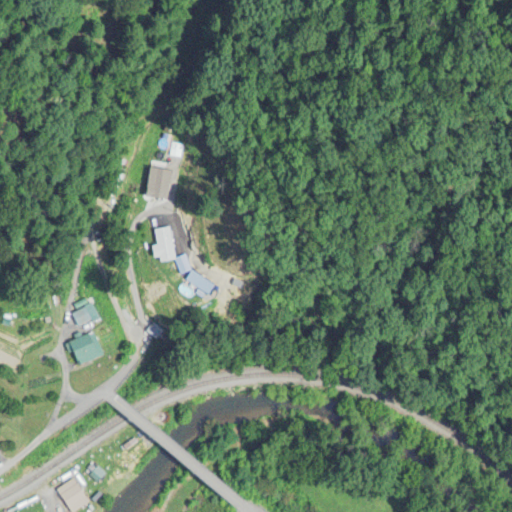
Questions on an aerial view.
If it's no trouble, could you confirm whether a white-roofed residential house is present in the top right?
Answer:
No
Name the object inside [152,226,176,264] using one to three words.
house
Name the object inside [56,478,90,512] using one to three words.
building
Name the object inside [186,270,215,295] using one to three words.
house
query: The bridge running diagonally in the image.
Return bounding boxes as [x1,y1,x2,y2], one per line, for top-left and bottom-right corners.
[102,390,249,512]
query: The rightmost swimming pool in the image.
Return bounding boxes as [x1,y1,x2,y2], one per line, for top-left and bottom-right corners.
[178,284,195,297]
